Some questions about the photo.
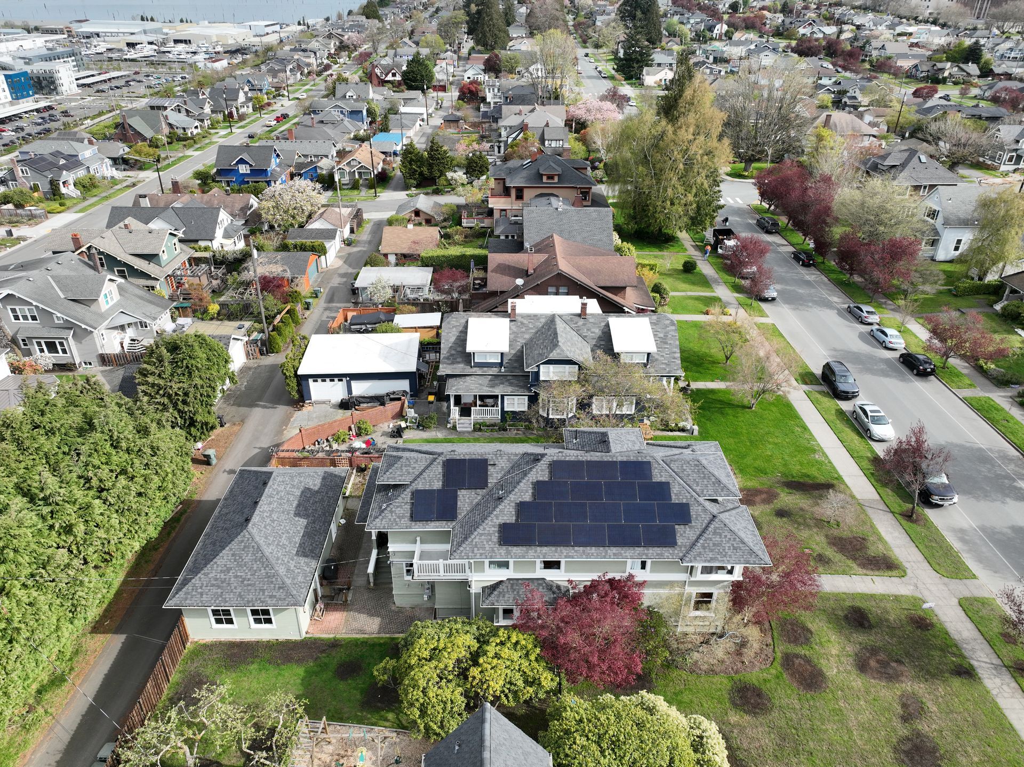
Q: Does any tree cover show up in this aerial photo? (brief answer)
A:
Yes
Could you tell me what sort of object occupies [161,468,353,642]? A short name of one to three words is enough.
building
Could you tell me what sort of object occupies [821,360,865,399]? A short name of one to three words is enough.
car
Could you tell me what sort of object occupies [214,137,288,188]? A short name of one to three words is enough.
house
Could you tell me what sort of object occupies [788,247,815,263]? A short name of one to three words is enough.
car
